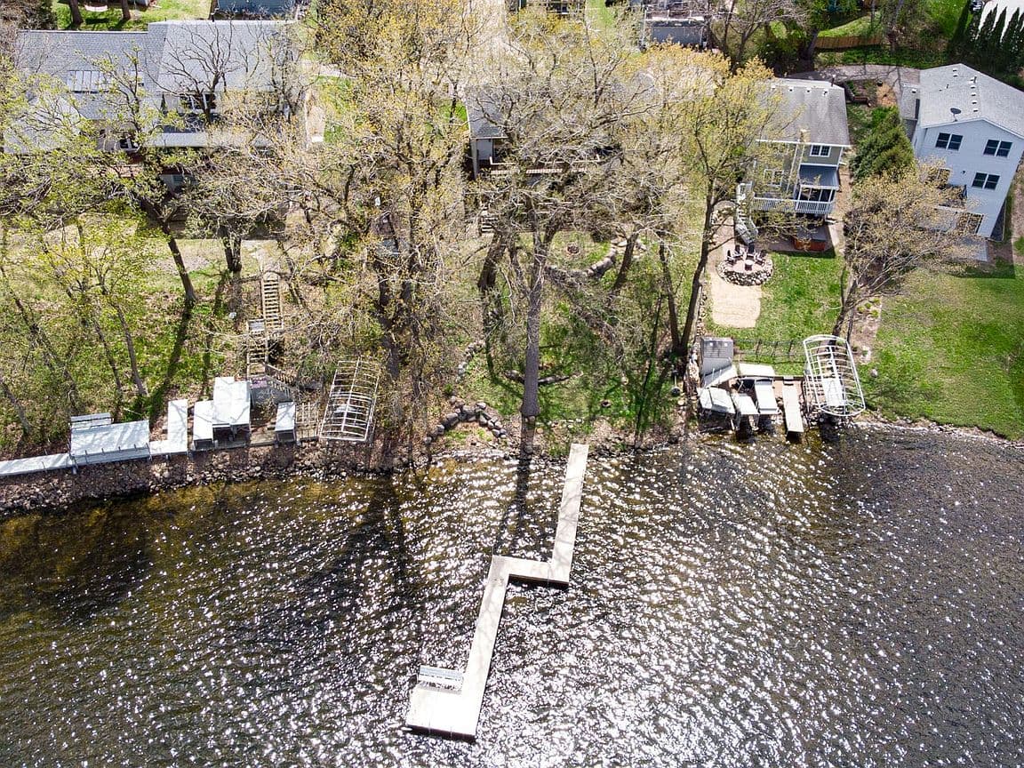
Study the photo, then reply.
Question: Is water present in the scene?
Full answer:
Yes, there's water in this view.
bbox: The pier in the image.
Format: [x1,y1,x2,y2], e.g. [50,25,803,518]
[403,442,589,749]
